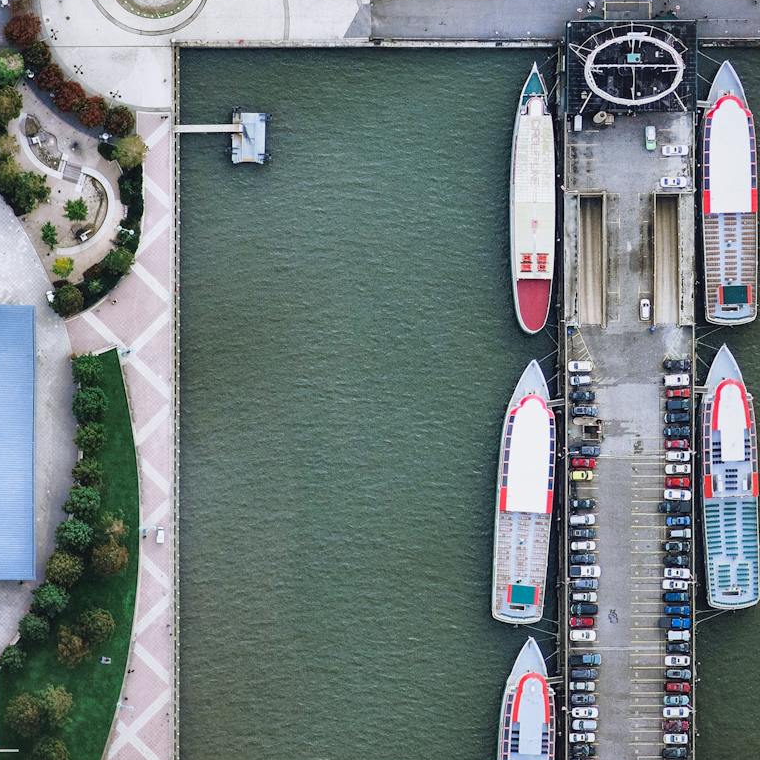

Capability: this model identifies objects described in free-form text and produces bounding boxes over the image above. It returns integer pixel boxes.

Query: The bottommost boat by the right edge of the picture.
[699,345,760,612]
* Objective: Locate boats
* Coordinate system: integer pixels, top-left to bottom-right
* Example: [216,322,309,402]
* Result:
[492,359,556,626]
[699,345,760,612]
[511,62,555,335]
[699,60,758,326]
[498,638,555,760]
